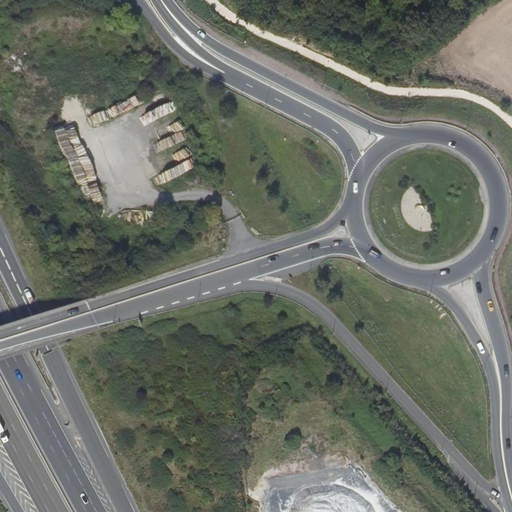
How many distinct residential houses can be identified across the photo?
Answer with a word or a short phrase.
none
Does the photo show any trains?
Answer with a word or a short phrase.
No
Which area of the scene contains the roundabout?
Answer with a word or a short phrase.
right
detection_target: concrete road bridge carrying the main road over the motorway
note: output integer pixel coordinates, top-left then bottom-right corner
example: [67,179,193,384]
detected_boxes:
[0,292,116,359]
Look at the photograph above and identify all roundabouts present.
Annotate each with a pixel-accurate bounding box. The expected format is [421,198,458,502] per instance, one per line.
[344,124,508,288]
